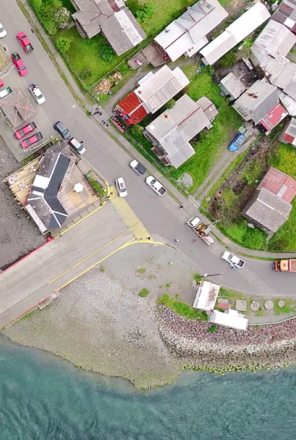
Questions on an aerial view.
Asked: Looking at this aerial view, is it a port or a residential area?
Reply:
residential area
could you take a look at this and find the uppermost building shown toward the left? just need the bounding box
[66,0,147,58]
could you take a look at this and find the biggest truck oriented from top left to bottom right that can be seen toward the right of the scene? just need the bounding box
[184,219,213,245]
